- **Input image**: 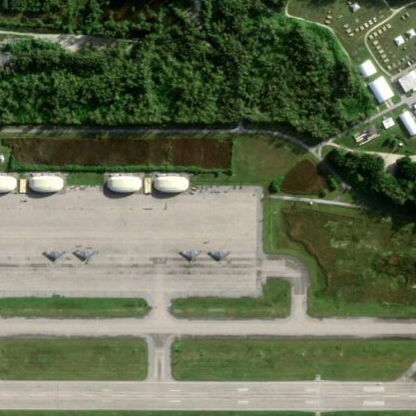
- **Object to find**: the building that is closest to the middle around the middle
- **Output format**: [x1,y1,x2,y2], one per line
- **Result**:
[154,174,188,192]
